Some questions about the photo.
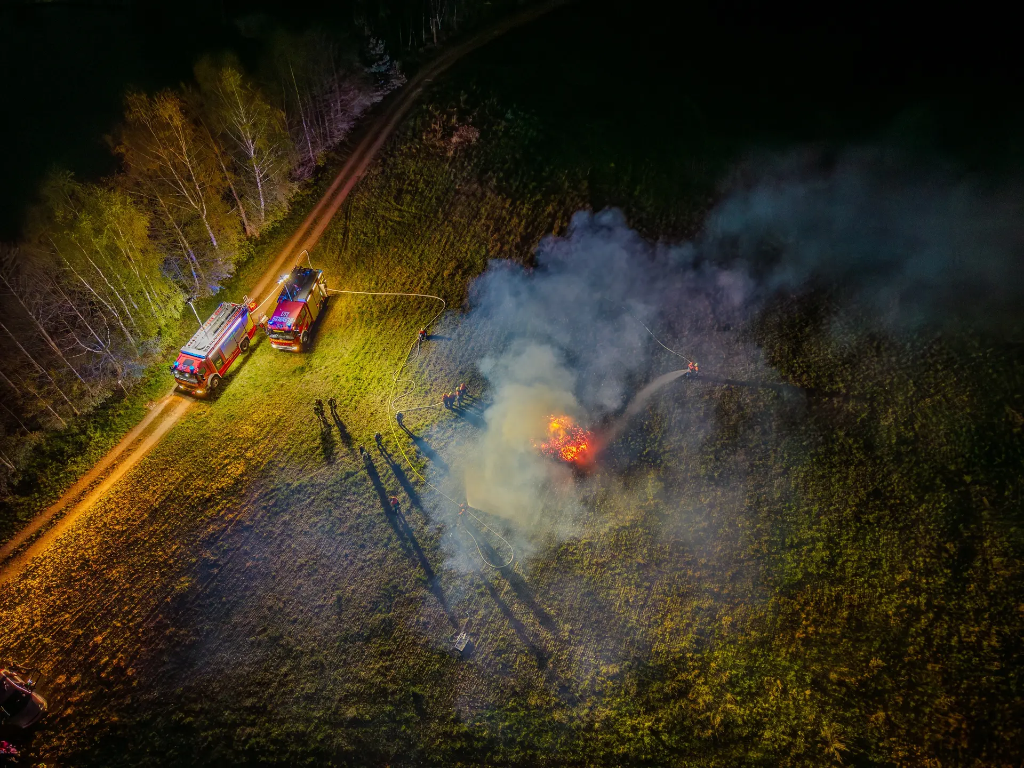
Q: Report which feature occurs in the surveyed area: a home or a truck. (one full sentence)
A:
Visible in the photo is a truck.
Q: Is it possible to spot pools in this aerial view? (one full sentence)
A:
No, there's no pool here.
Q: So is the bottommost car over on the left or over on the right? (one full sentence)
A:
The bottommost car sits on the left side.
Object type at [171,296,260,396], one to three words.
truck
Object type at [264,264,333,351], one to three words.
truck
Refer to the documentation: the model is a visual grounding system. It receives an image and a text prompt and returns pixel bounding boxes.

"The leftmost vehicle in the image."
[0,665,53,730]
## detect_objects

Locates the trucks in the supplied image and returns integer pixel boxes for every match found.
[171,296,260,396]
[264,264,333,351]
